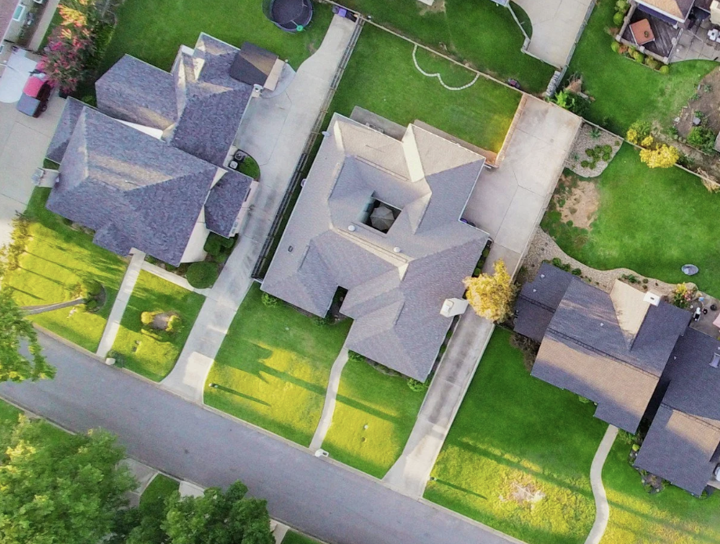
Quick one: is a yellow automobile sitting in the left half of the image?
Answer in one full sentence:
No, the scene shows no yellow automobile in the left half of the image.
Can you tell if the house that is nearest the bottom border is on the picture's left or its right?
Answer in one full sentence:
You can find the house that is nearest the bottom border on the right side of the picture.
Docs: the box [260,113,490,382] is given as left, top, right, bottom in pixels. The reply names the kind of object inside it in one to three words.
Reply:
house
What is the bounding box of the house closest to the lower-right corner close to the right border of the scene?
[512,261,720,497]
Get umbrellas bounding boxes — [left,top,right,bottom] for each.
[629,19,656,47]
[368,204,397,231]
[713,308,720,332]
